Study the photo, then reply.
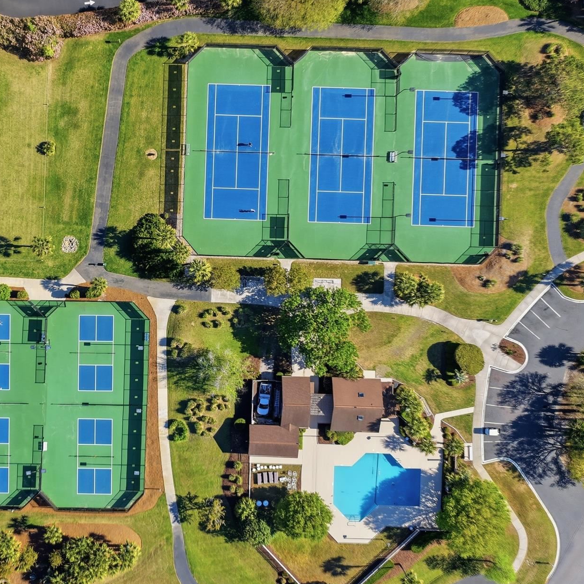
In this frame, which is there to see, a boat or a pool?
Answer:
pool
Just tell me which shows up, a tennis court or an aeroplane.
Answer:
tennis court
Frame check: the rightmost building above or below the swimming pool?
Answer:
above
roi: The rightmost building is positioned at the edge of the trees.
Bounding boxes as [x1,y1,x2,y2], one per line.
[330,377,383,432]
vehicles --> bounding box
[482,426,500,437]
[257,382,272,416]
